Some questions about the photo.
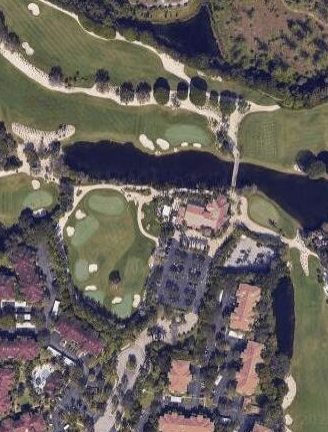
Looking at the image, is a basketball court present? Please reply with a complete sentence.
No, there's no basketball court here.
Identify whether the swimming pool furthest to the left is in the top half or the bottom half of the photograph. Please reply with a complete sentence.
The swimming pool furthest to the left is in the bottom half of the image.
